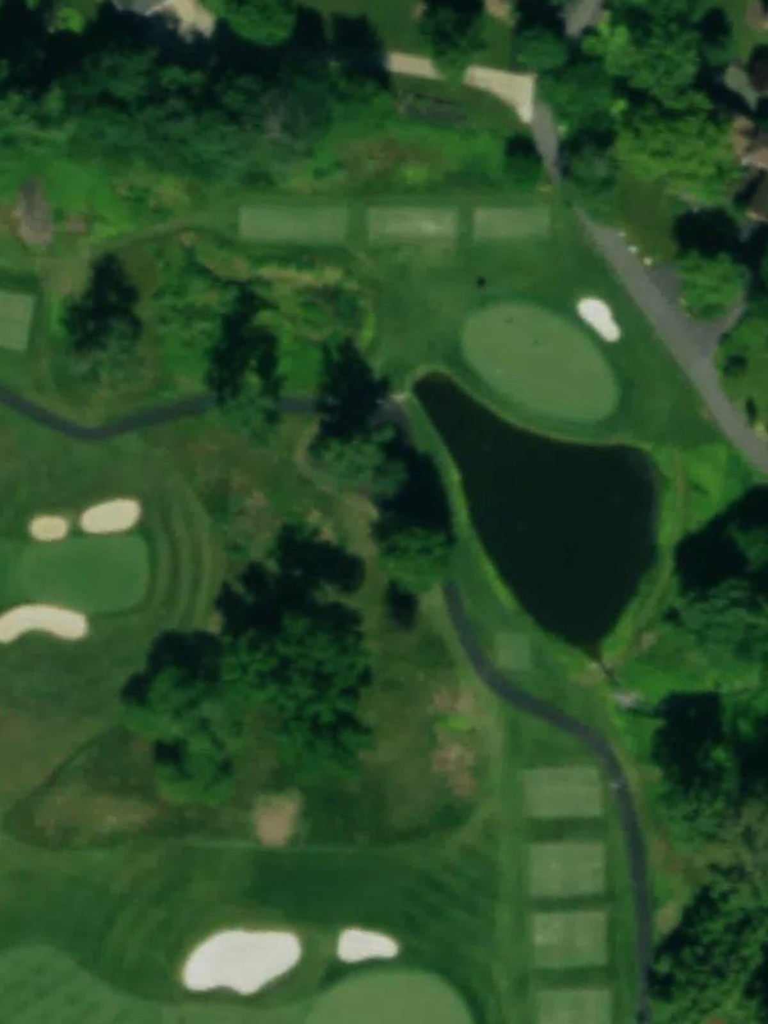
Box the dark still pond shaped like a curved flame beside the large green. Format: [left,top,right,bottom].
[414,372,659,661]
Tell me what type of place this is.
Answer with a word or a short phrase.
golf course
